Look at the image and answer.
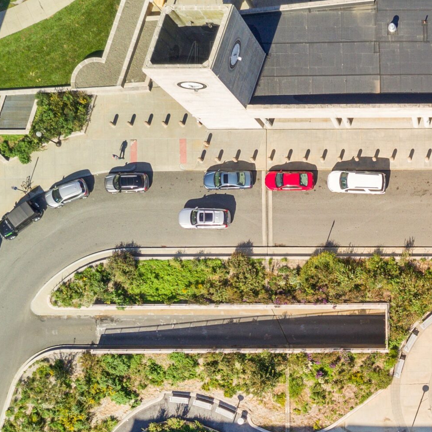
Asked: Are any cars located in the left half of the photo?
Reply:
Yes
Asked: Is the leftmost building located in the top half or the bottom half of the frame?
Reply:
top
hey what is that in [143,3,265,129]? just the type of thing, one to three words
building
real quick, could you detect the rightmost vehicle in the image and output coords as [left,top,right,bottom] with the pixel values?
[328,169,386,195]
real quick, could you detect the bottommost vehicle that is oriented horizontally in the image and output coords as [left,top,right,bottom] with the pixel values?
[179,206,231,230]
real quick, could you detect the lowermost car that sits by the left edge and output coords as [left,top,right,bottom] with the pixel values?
[0,193,45,233]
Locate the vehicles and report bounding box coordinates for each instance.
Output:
[328,169,386,195]
[44,177,91,209]
[265,169,314,191]
[203,168,253,191]
[0,193,45,233]
[179,206,231,230]
[104,170,149,193]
